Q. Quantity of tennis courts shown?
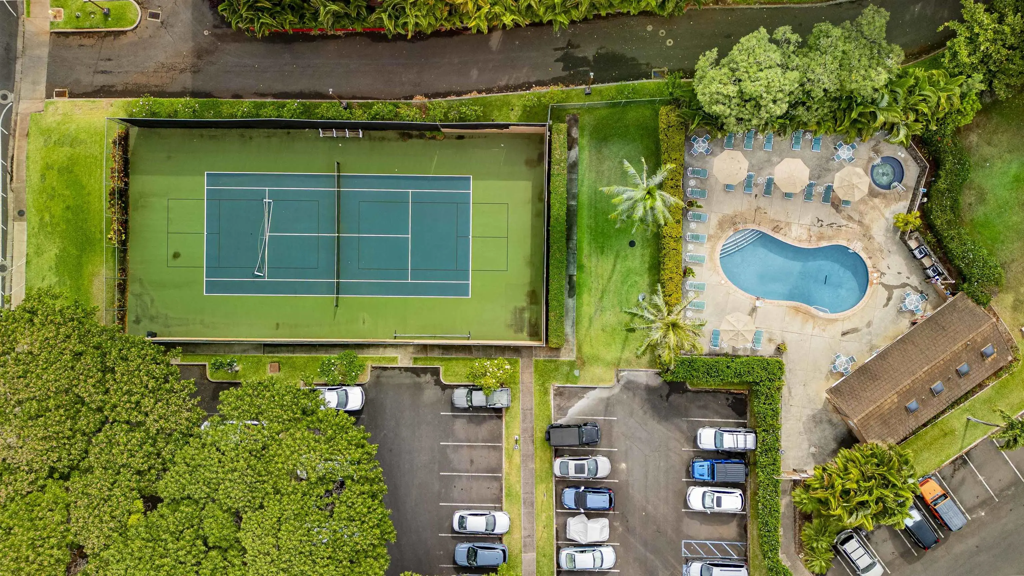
1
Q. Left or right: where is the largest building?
right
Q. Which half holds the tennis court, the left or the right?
left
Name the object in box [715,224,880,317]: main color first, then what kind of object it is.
blue swimming pool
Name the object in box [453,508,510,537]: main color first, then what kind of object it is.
white car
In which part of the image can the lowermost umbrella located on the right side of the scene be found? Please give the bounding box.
[719,312,755,347]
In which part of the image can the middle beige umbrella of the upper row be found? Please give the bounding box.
[774,158,809,193]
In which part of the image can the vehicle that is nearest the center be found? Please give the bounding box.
[452,386,512,410]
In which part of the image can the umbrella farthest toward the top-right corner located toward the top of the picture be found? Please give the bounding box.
[833,167,868,201]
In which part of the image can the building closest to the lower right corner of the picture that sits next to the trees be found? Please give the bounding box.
[823,291,1012,451]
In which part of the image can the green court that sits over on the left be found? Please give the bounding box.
[127,128,546,343]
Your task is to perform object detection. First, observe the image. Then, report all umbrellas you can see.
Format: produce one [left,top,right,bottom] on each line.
[713,149,748,184]
[833,167,868,201]
[719,312,755,347]
[774,158,809,193]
